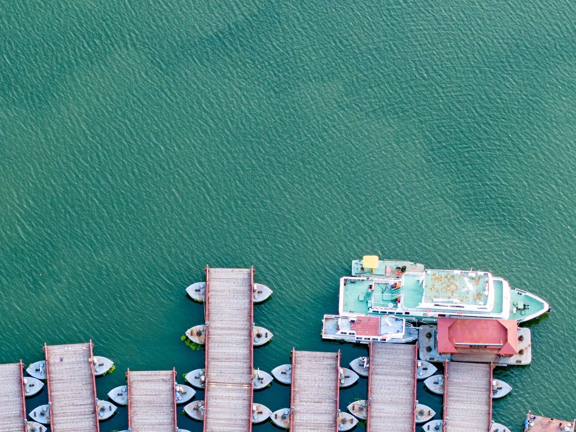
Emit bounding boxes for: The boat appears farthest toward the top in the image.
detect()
[351,256,424,279]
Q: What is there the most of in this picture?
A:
water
